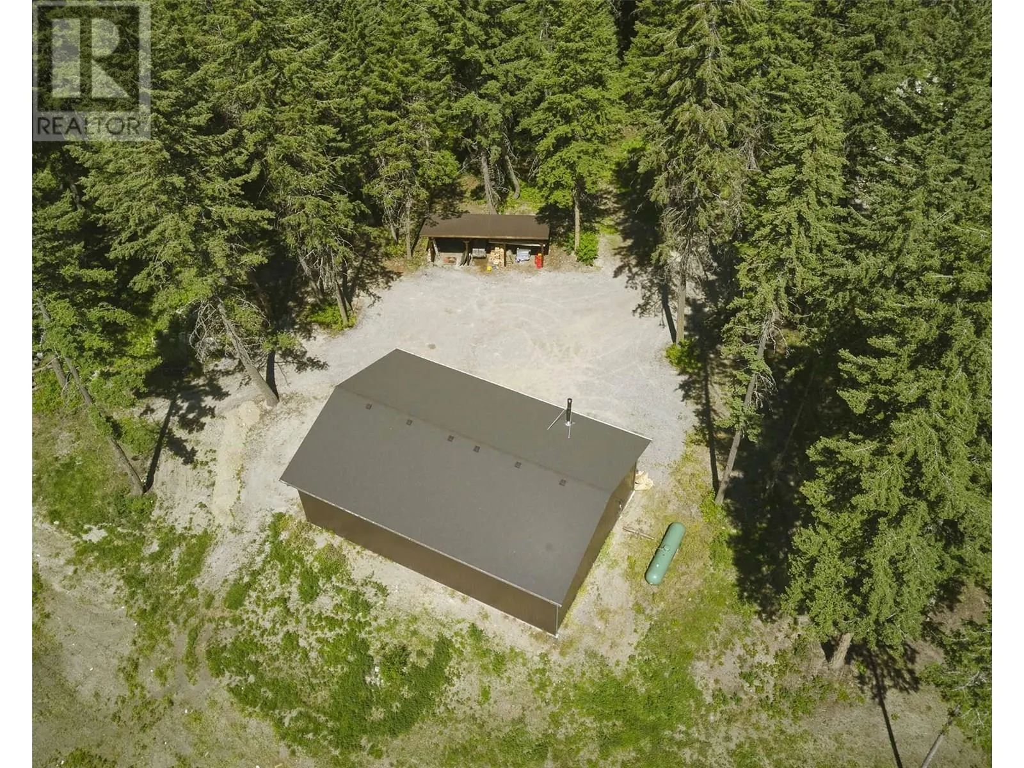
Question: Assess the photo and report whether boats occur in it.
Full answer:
No, the scene contains no boat.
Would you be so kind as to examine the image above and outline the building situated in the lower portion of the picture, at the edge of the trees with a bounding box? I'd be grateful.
[279,349,651,638]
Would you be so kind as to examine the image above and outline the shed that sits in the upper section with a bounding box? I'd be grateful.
[418,215,550,270]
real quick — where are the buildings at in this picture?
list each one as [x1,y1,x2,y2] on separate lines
[418,215,550,270]
[279,349,651,638]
